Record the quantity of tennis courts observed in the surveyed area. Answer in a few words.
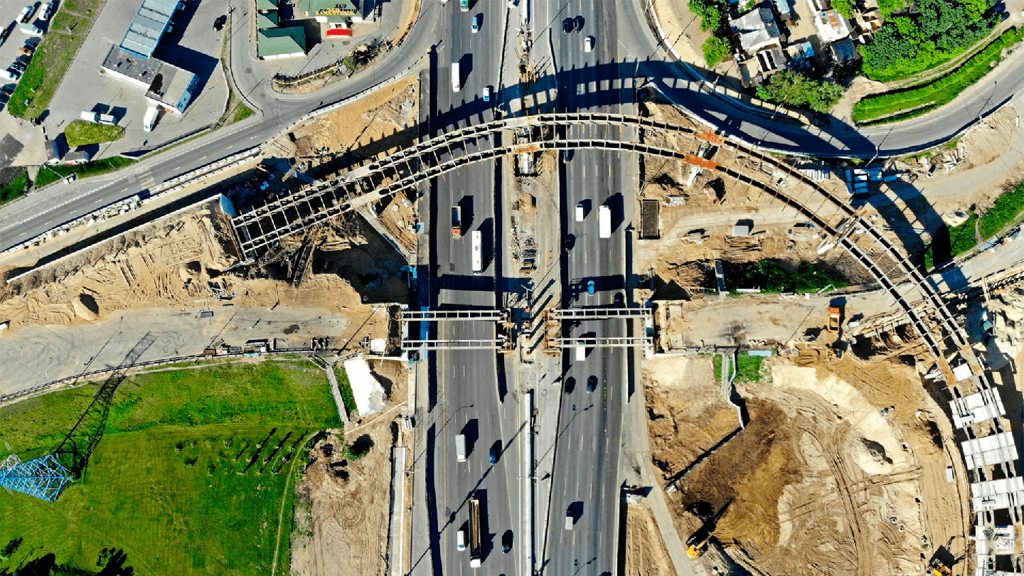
0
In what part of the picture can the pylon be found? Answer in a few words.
bottom left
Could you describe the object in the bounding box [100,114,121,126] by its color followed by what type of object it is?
white vehicle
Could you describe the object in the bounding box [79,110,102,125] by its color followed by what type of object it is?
white vehicle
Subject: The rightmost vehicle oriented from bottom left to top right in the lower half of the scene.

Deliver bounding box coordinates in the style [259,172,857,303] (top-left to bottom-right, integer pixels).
[685,532,717,565]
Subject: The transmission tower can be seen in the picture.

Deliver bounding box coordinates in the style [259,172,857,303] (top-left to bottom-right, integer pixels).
[0,449,83,507]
